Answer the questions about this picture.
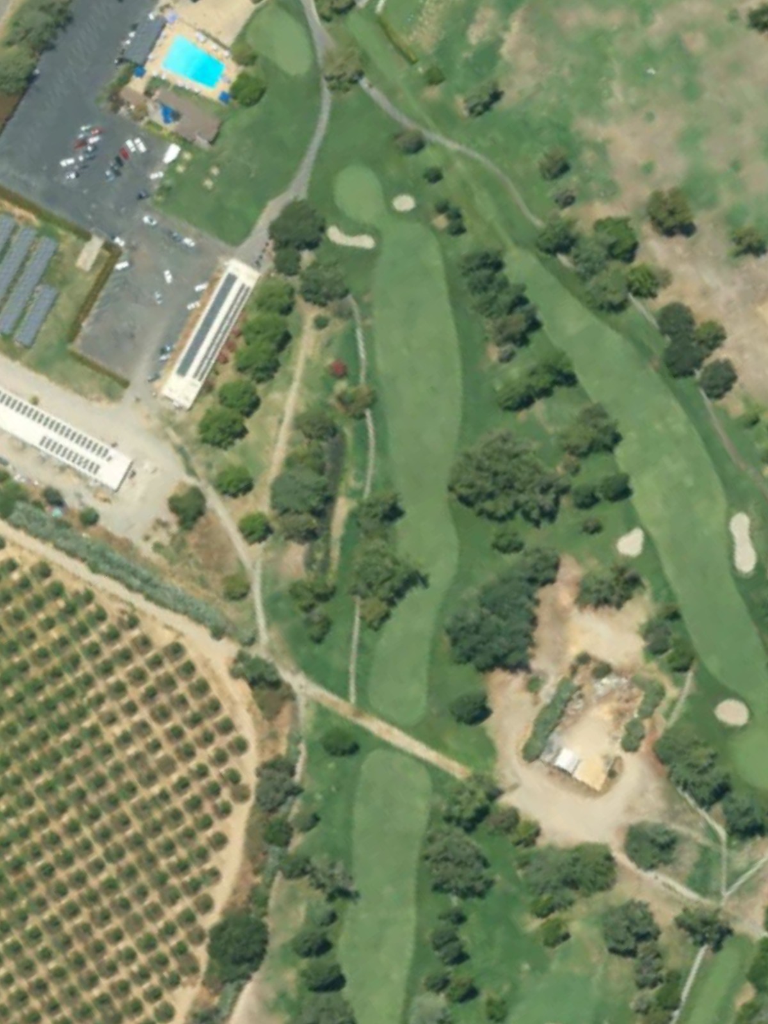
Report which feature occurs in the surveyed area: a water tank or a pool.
pool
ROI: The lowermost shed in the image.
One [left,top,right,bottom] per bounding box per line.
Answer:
[554,749,580,775]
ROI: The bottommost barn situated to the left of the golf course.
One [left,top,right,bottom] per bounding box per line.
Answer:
[0,388,131,490]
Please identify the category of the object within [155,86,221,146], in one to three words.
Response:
building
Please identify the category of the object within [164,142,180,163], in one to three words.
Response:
vehicle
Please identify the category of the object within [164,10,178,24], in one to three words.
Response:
umbrella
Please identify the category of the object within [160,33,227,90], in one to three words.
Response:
swimming pool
